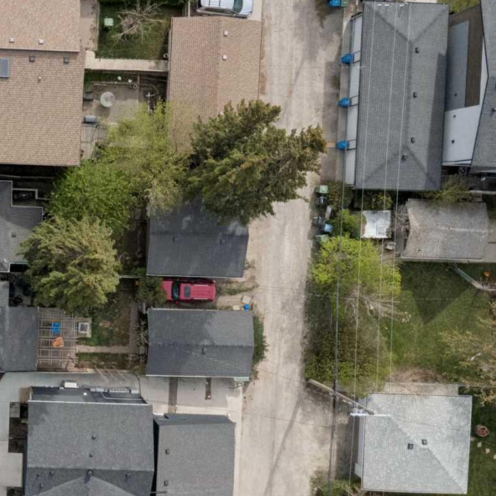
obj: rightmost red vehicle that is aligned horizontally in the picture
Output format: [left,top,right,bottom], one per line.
[161,278,217,306]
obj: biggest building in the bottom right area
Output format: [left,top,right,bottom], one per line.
[341,391,473,495]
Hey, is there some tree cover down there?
Yes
